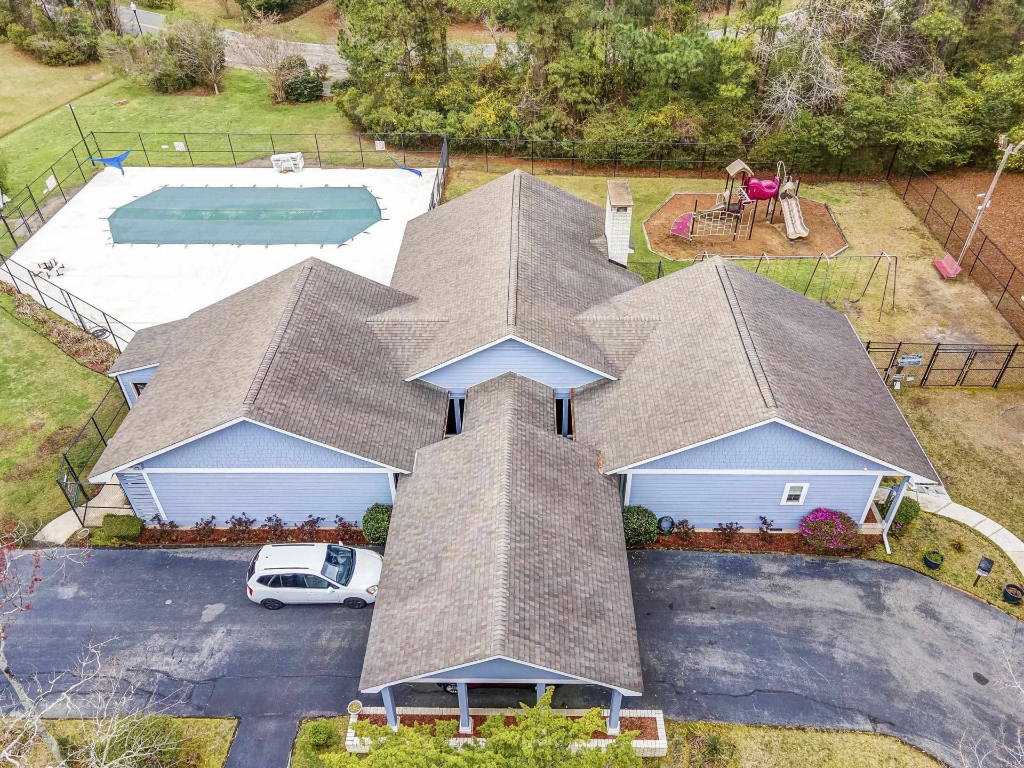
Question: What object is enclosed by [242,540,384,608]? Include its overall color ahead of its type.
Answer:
white car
